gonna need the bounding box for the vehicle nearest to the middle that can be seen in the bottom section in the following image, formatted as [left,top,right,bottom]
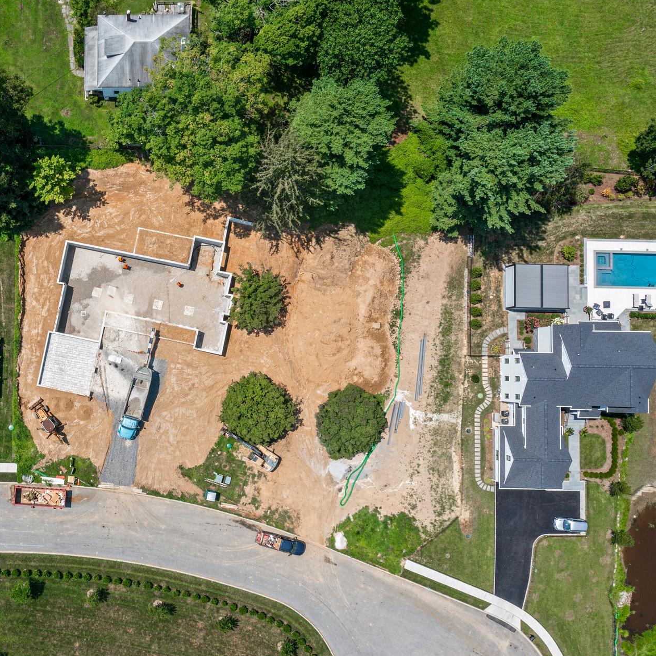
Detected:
[225,428,283,473]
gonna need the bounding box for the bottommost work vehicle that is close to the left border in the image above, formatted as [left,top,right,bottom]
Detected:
[26,393,62,444]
